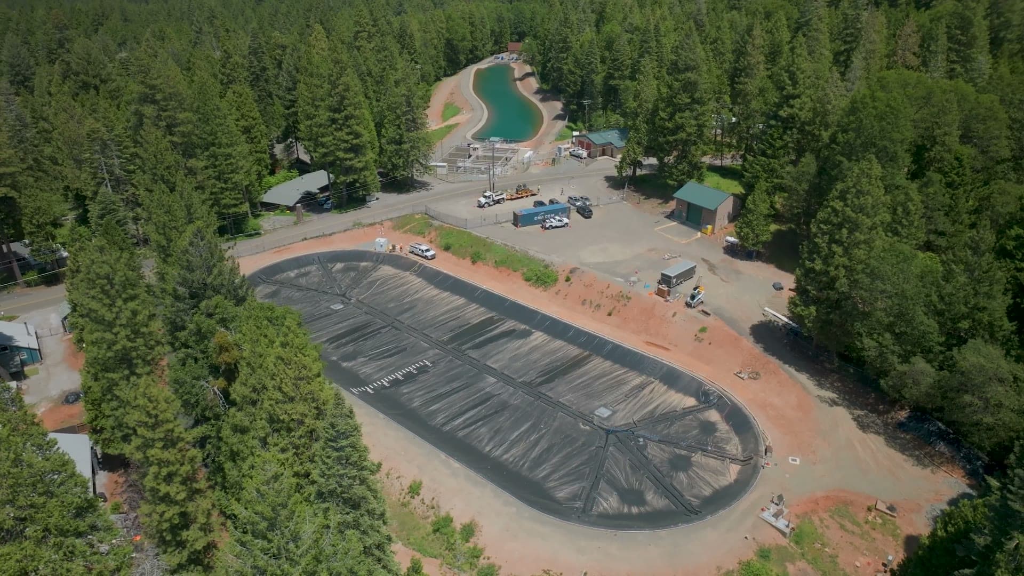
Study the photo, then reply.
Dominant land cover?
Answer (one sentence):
For the most part, this view shows trees.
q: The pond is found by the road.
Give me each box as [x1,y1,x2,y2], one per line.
[246,248,768,535]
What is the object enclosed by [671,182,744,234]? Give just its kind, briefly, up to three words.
building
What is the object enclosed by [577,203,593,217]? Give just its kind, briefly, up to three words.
car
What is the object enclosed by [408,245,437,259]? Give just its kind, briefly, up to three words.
vehicle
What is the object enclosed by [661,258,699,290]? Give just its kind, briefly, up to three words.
trailer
